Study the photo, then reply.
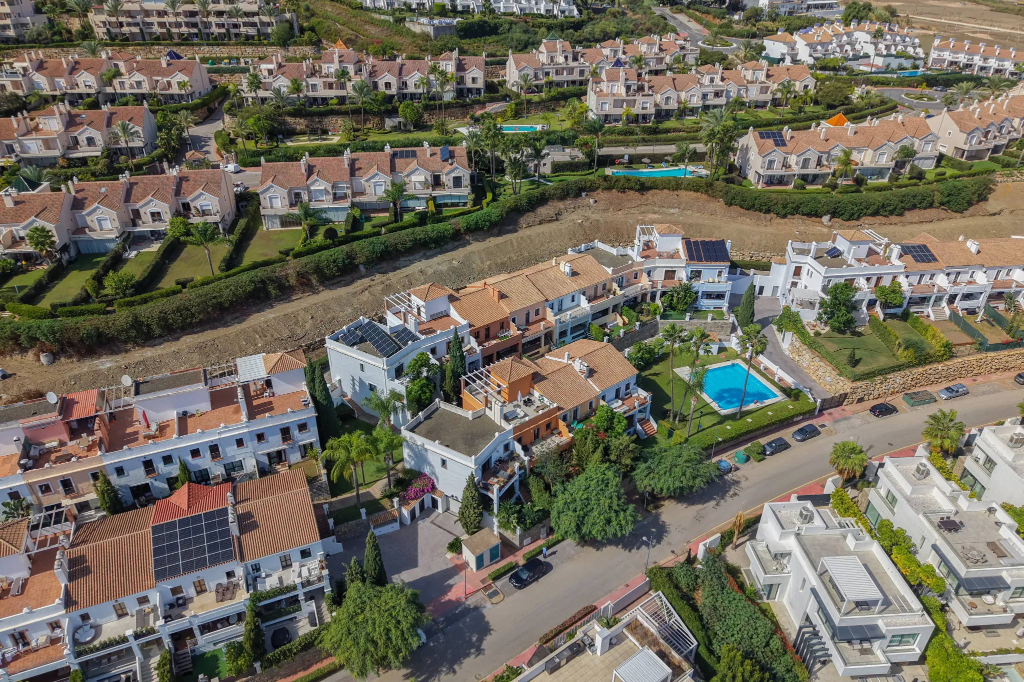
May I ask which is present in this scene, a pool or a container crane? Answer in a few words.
pool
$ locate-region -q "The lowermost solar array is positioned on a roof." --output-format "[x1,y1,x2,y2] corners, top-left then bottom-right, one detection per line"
[151,510,234,580]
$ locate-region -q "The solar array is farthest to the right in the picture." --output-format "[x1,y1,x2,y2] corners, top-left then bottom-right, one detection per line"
[902,246,935,262]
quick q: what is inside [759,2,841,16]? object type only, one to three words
building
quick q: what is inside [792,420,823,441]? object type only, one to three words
car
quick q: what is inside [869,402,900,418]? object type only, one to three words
car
